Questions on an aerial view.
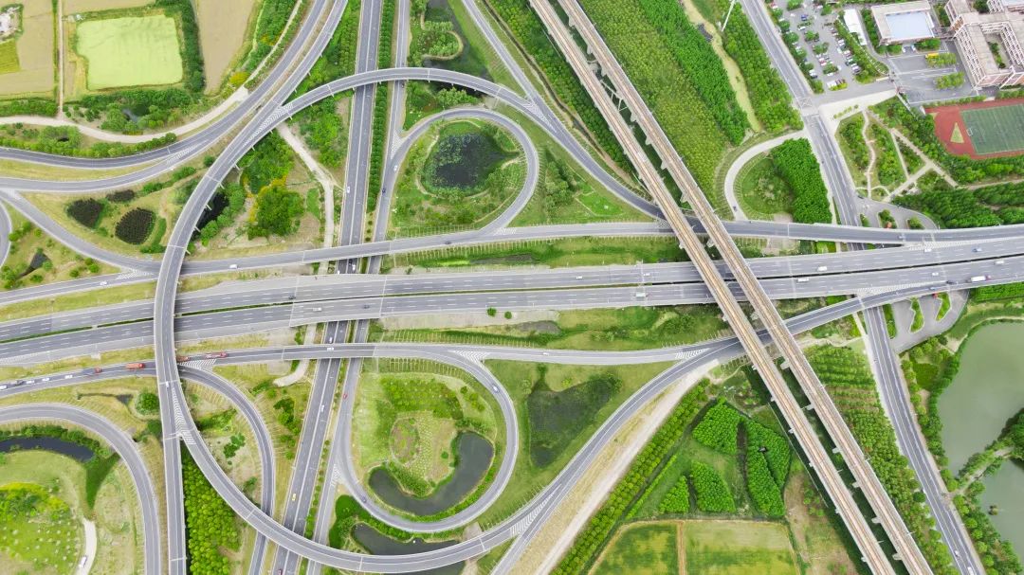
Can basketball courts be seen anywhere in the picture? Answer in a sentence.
No, no basketball court is visible in the view.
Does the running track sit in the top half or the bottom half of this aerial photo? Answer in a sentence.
You can find the running track in the top half.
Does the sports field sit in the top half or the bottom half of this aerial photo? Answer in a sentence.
The sports field sits in the top half of the picture.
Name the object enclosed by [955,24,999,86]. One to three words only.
building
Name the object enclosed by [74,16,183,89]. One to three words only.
pond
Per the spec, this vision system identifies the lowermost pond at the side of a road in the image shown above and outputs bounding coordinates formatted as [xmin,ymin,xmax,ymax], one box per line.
[354,526,466,575]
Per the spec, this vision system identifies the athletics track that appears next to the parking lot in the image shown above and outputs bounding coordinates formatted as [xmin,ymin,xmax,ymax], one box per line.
[924,97,1024,160]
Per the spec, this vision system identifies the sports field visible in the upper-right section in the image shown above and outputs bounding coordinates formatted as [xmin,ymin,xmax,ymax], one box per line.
[924,97,1024,160]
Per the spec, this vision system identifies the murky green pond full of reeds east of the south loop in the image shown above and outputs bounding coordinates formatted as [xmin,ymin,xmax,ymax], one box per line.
[528,374,619,468]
